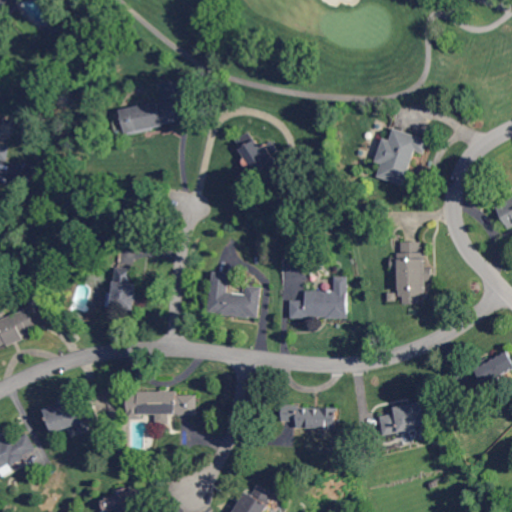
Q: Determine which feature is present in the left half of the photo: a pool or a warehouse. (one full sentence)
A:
You can see a pool in the left half of the photo.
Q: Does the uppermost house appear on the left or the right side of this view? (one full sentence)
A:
It is on the left.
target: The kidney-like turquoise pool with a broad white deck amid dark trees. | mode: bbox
[71,284,92,312]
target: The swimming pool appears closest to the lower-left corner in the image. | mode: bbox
[130,416,154,452]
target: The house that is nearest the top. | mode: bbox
[118,105,160,135]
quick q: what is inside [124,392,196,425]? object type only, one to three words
house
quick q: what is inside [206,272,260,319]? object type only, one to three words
house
